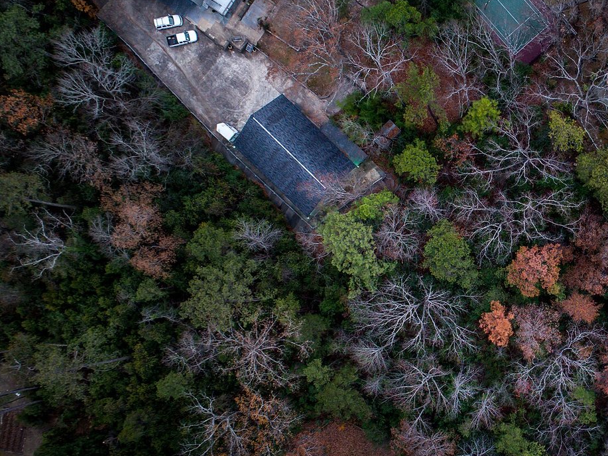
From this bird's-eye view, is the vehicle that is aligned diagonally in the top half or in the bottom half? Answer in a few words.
top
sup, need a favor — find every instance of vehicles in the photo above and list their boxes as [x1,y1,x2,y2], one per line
[167,29,200,47]
[154,13,184,30]
[213,121,239,144]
